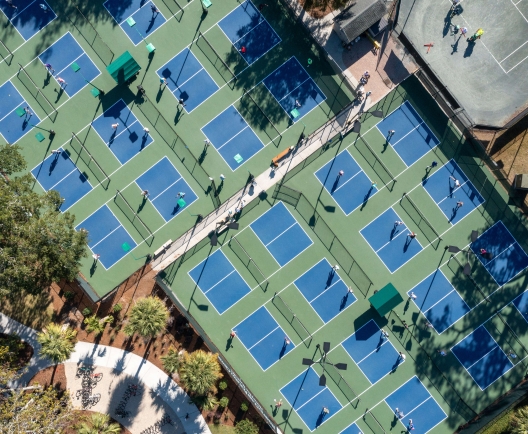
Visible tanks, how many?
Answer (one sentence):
There are no tanks in the image.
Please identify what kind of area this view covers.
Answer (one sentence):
This looks like a sports ground.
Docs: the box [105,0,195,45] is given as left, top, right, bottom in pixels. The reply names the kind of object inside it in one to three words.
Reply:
sports court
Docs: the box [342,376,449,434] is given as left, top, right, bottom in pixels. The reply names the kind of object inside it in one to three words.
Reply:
sports court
